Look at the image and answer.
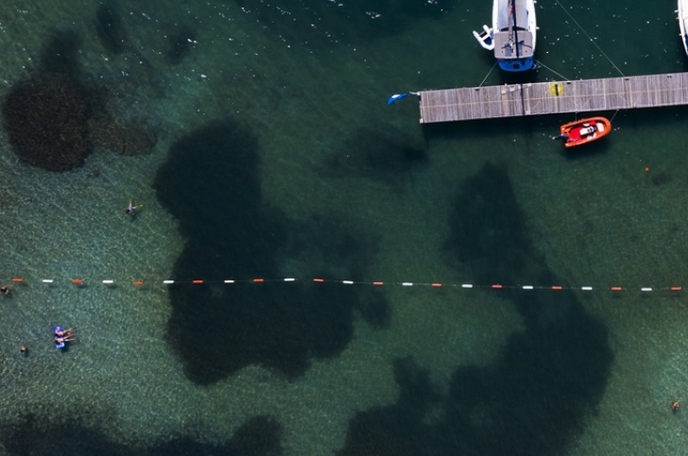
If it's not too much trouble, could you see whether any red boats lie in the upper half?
Yes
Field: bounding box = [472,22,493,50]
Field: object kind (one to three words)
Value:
boat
